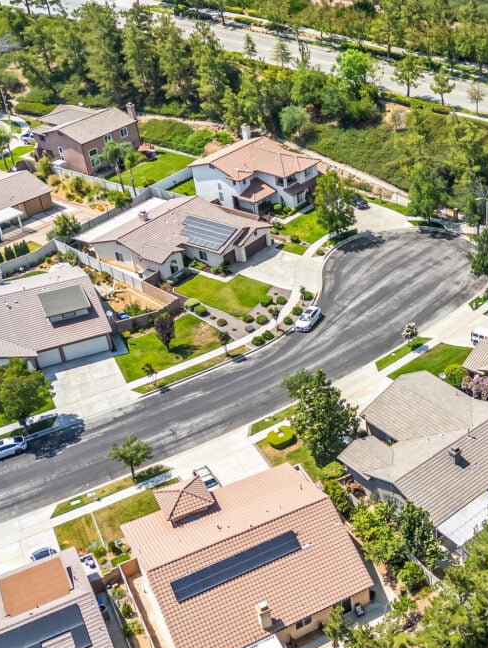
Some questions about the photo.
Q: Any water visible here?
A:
No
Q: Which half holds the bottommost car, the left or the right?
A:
left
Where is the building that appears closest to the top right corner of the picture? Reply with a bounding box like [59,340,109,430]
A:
[184,123,329,221]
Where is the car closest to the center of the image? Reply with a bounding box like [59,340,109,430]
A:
[293,300,325,331]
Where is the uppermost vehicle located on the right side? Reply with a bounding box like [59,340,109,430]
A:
[345,186,374,209]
